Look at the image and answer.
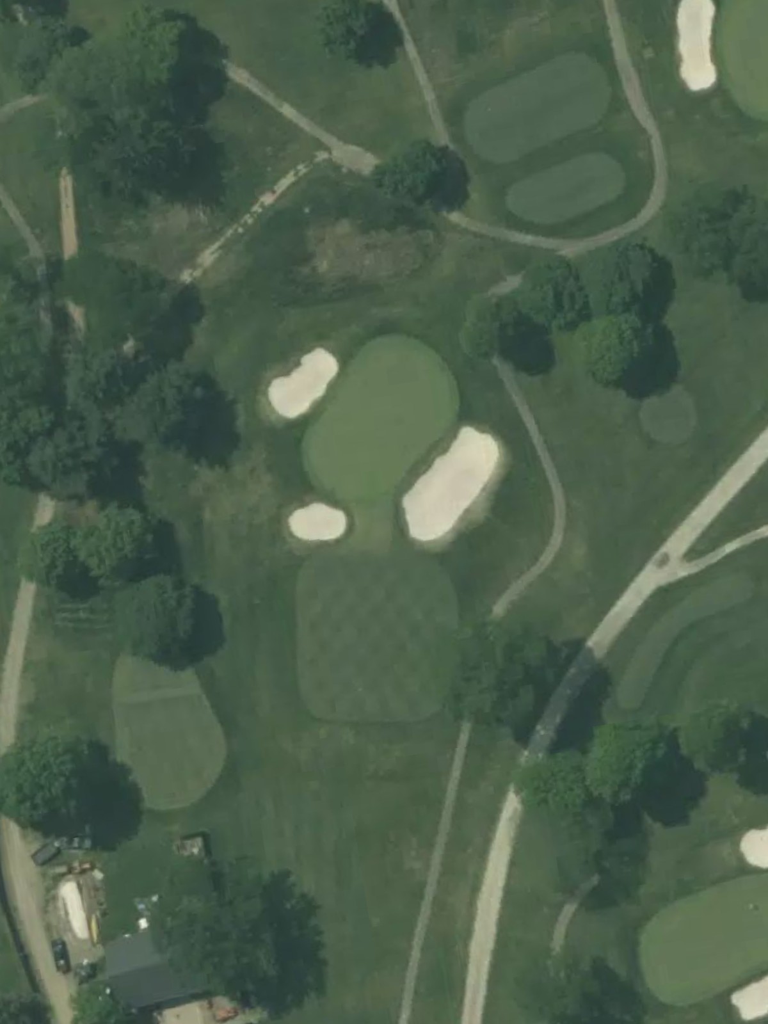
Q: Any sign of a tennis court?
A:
No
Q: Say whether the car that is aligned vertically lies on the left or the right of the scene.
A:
left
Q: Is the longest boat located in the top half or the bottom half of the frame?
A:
bottom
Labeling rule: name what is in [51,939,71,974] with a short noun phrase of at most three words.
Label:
car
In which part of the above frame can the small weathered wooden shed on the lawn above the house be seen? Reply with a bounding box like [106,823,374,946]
[176,835,203,859]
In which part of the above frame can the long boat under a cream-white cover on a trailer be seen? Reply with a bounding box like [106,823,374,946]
[63,880,86,939]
